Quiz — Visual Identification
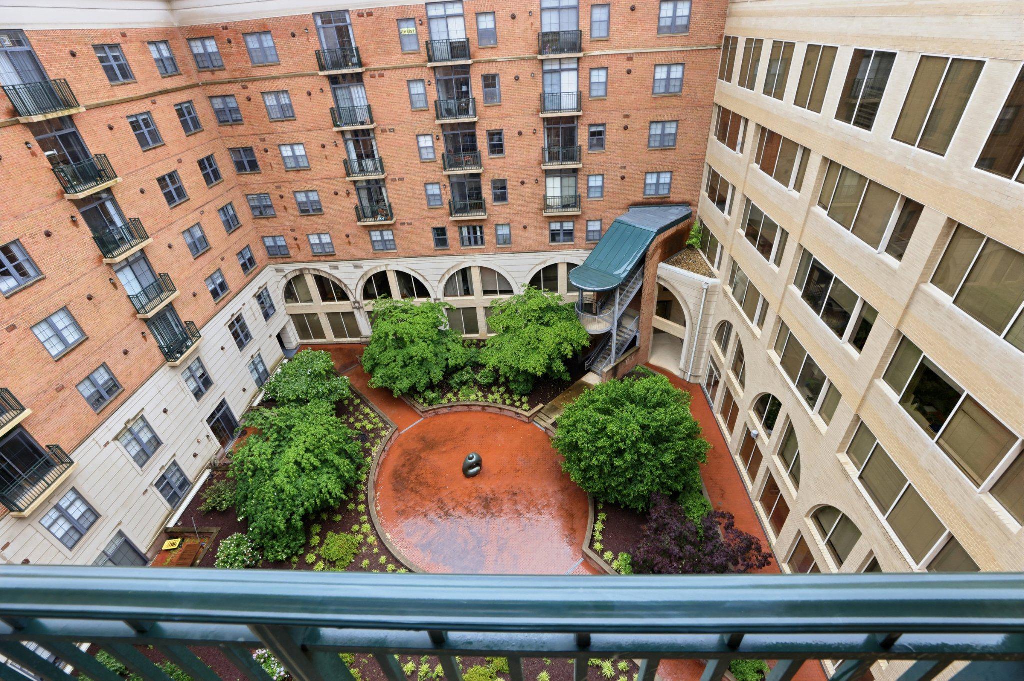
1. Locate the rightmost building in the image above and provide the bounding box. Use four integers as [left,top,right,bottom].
[693,0,1024,574]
